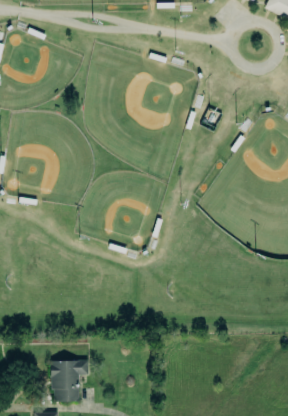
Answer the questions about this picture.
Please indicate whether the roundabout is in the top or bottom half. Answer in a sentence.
The top half of the photo is where the roundabout is.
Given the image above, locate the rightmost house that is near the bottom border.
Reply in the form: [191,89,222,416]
[51,361,90,404]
